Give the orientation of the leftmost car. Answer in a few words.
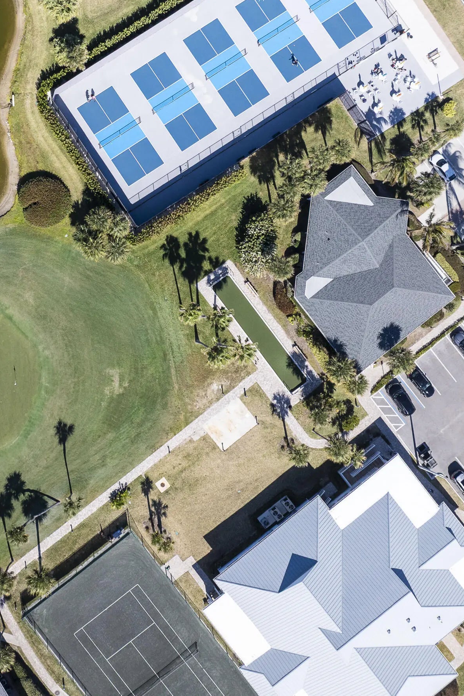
on a diagonal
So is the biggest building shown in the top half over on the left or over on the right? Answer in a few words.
right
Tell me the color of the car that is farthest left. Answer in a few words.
black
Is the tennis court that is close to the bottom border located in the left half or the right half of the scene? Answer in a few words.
left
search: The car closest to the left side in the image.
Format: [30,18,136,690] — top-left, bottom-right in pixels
[386,381,416,416]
